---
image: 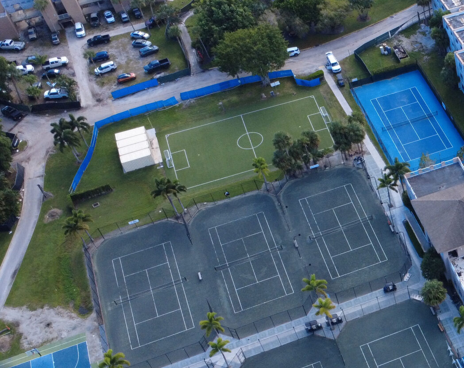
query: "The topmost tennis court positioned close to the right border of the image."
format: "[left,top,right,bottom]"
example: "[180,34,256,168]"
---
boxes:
[354,70,464,170]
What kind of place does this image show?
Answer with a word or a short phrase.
sports ground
